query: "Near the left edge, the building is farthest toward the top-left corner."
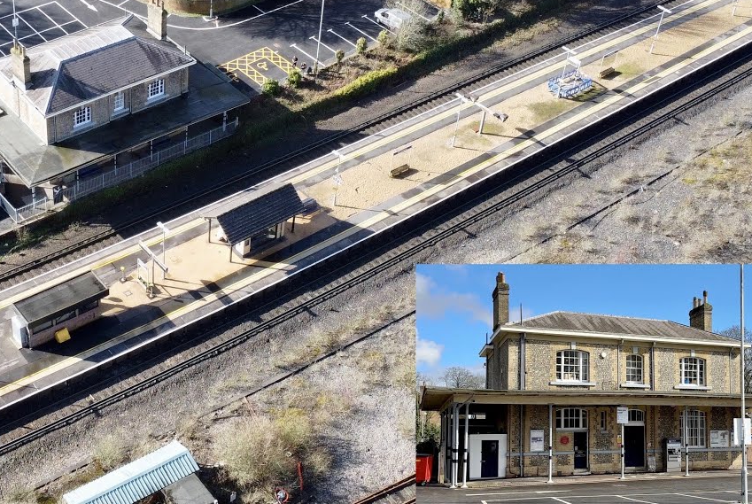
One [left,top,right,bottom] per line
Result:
[0,0,253,208]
